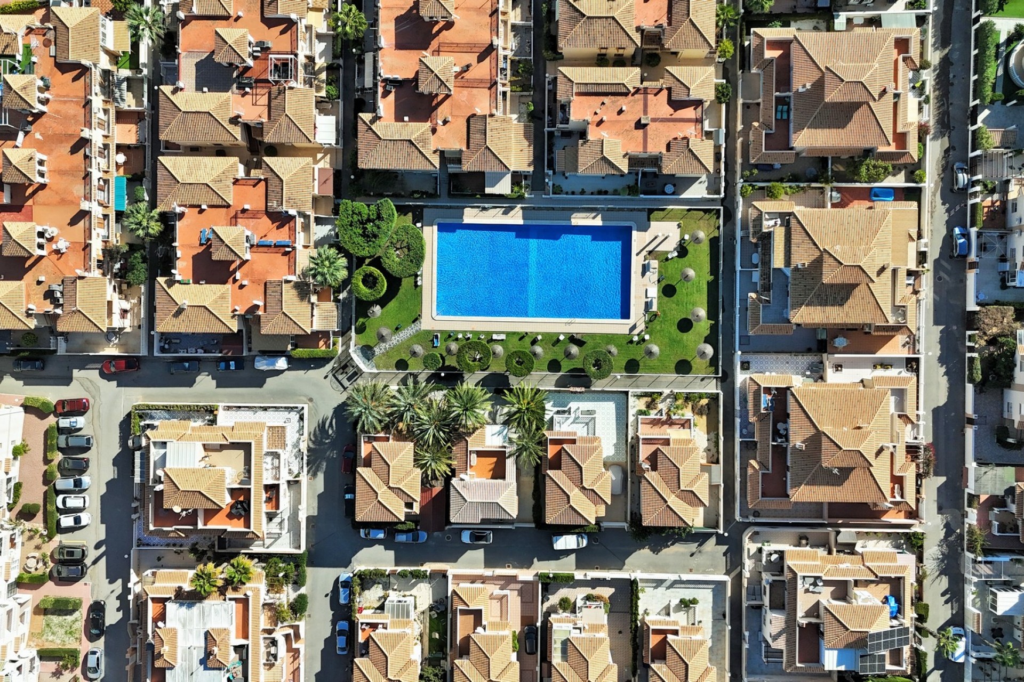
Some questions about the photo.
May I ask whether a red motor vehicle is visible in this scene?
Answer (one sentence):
Yes, a red motor vehicle can be made out from above.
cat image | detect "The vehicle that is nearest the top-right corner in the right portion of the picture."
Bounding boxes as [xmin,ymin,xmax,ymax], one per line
[949,161,970,193]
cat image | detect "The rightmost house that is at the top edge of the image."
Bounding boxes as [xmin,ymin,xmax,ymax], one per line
[747,13,920,165]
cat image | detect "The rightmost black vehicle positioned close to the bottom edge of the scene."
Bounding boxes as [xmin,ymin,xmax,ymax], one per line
[522,624,537,654]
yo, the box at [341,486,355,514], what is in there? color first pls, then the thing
black car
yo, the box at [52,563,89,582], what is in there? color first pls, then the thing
gray car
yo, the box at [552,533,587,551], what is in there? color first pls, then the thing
white vehicle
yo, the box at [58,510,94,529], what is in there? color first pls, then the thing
white car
